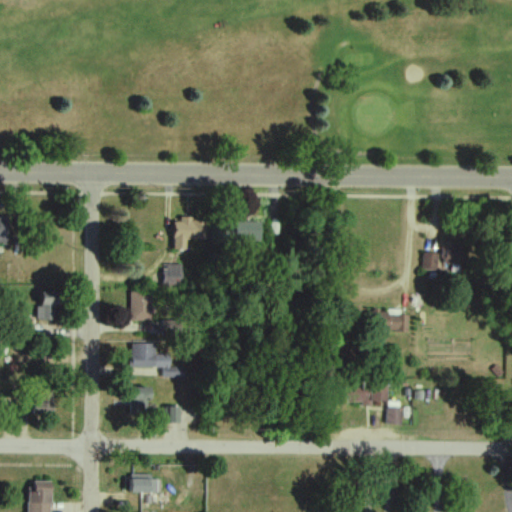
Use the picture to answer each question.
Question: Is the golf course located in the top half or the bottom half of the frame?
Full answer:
Seen from above, the golf course lies in the top half of the view.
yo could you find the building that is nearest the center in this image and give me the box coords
[236,220,263,236]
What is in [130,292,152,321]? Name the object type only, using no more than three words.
house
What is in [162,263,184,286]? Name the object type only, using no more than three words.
house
